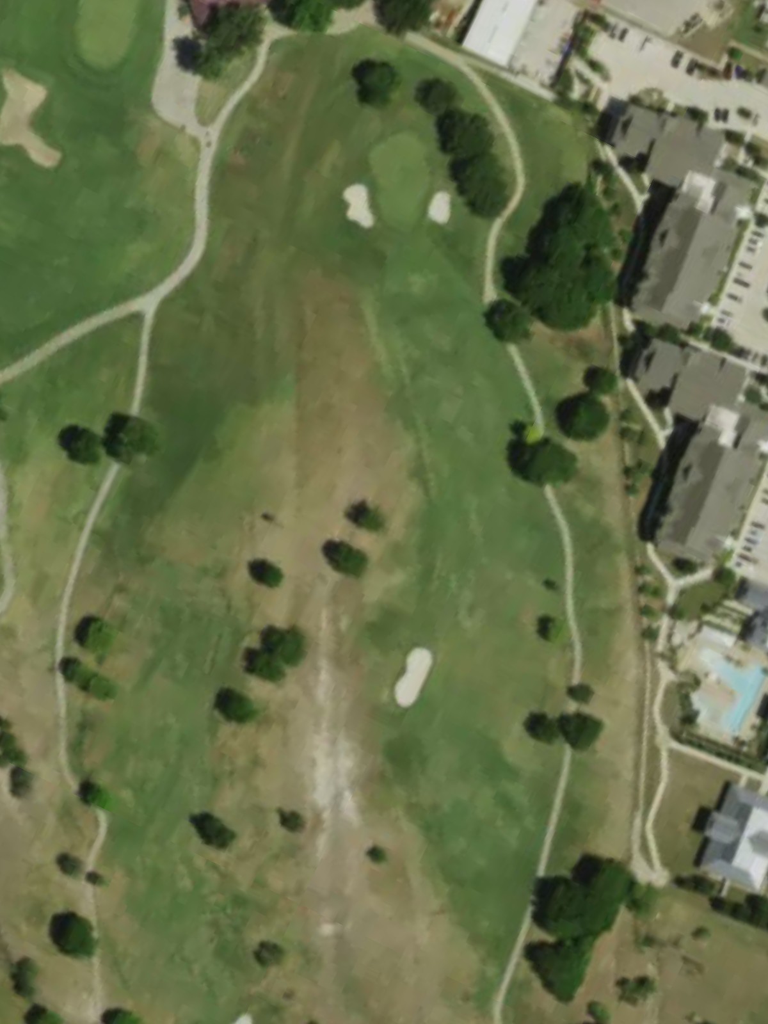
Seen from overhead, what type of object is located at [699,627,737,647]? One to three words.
building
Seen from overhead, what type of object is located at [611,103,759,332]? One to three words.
building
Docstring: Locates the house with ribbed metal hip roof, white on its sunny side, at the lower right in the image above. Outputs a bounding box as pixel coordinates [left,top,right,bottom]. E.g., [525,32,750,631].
[700,782,768,897]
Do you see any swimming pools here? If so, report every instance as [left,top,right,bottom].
[675,624,768,756]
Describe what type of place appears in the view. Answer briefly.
golf course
